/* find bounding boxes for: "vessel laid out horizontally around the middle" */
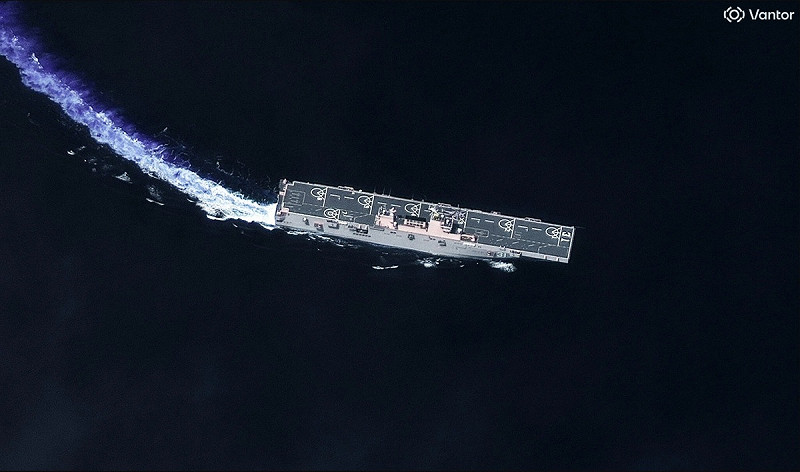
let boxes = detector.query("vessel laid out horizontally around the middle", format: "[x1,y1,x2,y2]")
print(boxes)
[274,178,576,262]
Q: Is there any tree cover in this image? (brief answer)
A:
No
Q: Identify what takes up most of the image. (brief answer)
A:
water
